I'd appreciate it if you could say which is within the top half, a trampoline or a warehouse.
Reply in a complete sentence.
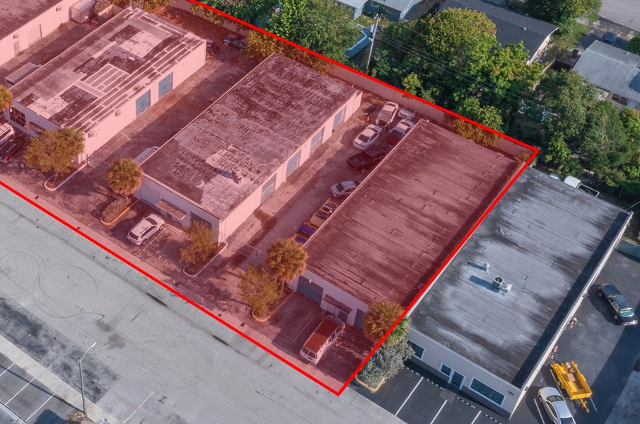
Visible within the top half is a warehouse.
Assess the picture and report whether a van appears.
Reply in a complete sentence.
Yes, a van can be made out from above.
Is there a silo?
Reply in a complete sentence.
No, the picture doesn't show any silo.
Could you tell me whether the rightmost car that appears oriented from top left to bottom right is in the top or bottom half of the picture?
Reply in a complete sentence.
Seen from above, the rightmost car that appears oriented from top left to bottom right lies in the bottom half of the view.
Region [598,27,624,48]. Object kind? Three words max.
car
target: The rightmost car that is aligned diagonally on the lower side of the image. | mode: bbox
[598,284,640,326]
